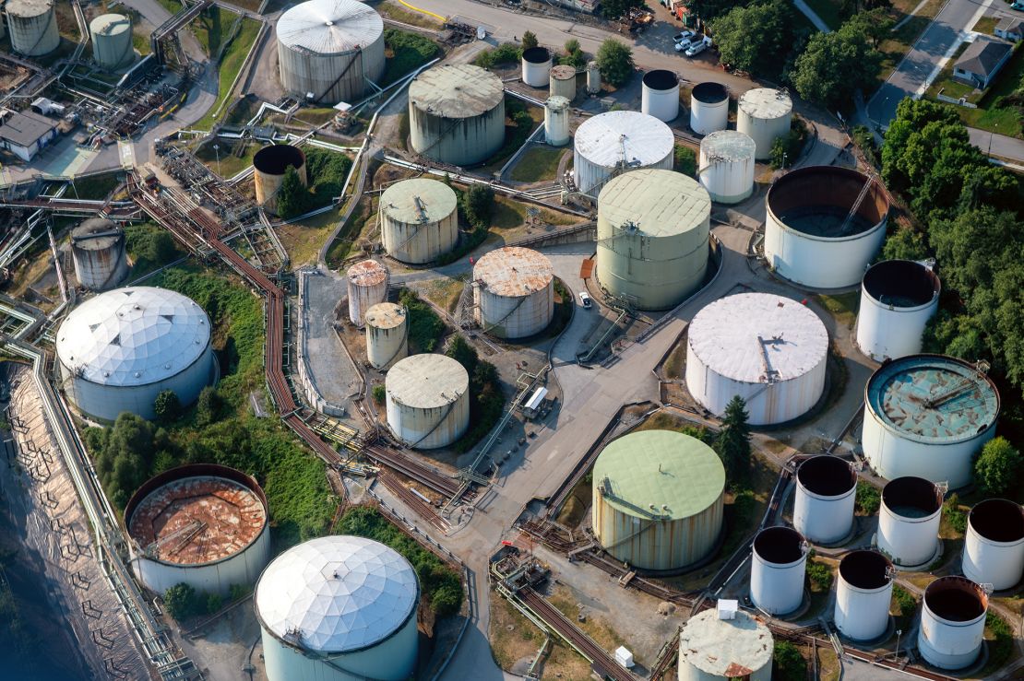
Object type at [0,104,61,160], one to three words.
building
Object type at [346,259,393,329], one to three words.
storage tank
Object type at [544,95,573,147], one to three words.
storage tank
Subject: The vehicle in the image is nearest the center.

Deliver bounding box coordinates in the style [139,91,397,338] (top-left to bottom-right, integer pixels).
[576,288,594,308]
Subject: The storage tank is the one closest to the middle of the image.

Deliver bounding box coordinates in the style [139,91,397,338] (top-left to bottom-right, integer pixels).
[468,246,554,338]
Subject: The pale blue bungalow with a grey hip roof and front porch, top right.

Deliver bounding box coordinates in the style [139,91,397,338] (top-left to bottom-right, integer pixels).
[951,34,1018,88]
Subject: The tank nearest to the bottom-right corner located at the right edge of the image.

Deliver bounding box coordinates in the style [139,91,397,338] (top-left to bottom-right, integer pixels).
[913,575,996,674]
